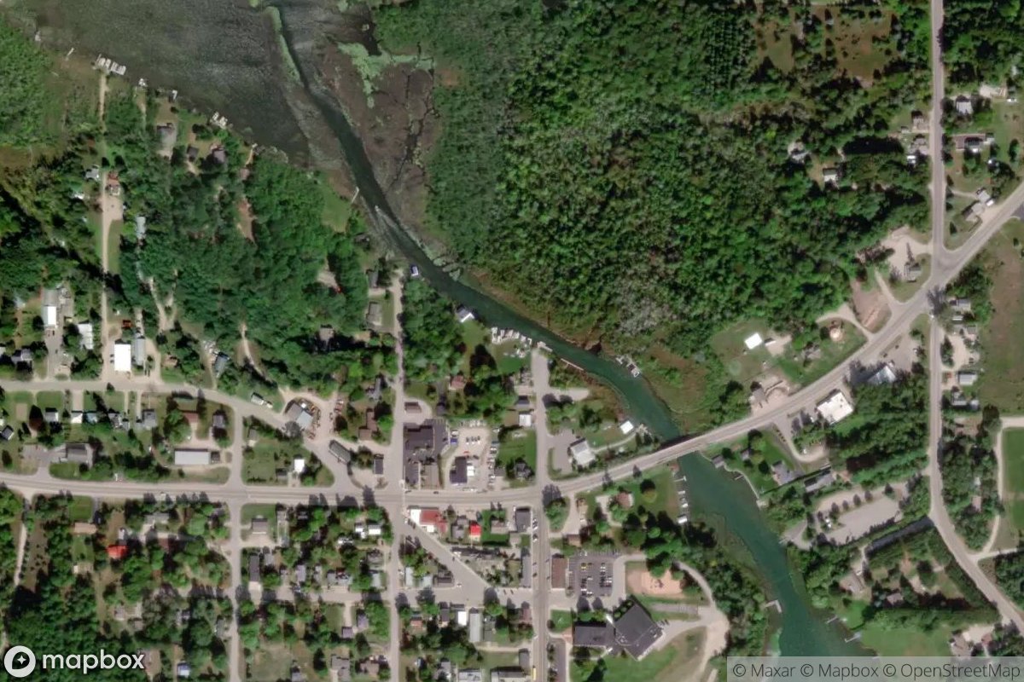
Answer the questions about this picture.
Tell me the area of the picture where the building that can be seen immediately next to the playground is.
bottom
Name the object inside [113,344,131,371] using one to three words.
building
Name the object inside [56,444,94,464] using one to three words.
building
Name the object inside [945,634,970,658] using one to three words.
house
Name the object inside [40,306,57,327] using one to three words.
barn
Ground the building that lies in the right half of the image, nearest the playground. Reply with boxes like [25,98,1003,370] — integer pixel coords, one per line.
[572,605,661,658]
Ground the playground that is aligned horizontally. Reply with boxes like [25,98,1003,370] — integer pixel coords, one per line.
[628,569,684,595]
